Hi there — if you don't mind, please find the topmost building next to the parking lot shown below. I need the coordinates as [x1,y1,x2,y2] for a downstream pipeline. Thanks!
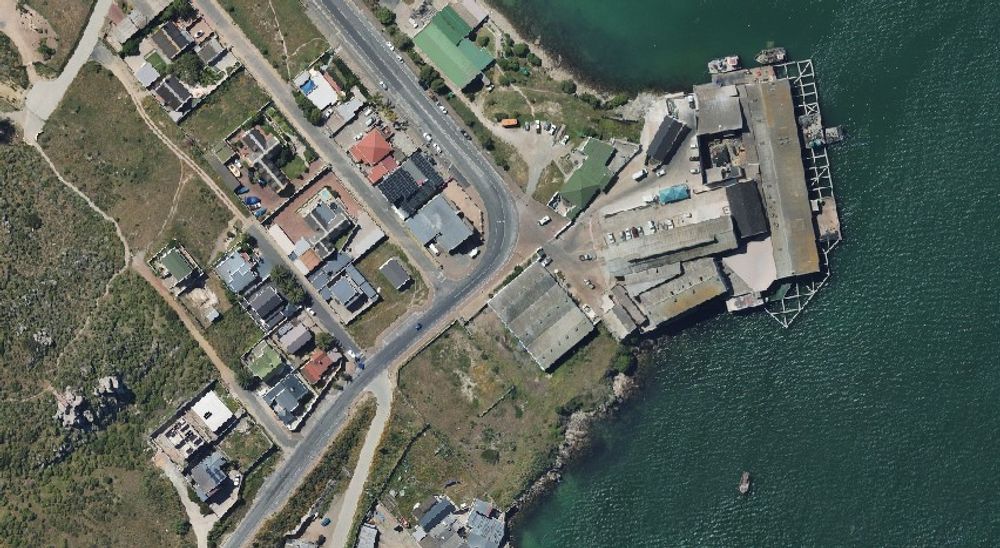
[414,0,496,89]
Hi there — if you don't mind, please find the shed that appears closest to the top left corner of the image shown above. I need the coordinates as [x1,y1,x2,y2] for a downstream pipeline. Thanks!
[107,10,146,43]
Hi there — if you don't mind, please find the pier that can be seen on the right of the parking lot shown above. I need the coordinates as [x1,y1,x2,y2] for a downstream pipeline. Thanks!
[640,60,841,331]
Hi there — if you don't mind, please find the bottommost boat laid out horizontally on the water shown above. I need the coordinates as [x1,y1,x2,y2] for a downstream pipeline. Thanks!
[729,293,763,312]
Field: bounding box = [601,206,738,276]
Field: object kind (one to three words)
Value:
building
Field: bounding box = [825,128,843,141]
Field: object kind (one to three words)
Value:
ship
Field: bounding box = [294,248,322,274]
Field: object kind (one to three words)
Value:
house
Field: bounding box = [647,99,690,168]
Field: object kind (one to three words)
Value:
shed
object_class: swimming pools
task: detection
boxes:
[300,79,315,95]
[320,189,331,201]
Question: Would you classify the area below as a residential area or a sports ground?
residential area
